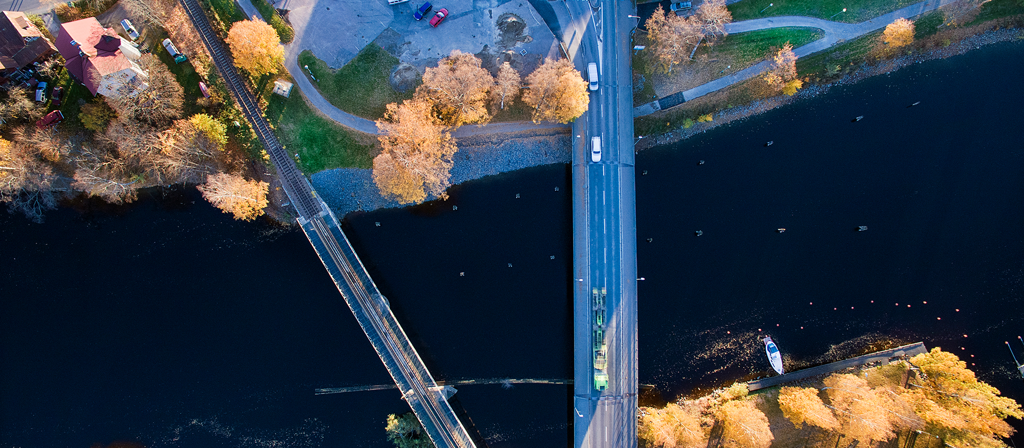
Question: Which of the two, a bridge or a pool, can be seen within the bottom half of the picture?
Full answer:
Visible within the bottom half of the picture is a bridge.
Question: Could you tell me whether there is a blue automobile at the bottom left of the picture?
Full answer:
No, no blue automobile can be made out at the bottom left of the picture.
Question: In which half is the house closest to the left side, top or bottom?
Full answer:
Seen from above, the house closest to the left side lies in the top half of the view.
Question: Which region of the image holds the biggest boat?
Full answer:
The biggest boat is in the bottom right part of the image.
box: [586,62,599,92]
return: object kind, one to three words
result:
vehicle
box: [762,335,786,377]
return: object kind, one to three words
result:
boat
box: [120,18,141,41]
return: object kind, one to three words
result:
car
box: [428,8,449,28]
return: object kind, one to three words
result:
car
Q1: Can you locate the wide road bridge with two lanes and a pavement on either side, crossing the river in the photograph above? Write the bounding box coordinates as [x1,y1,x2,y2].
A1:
[571,86,639,447]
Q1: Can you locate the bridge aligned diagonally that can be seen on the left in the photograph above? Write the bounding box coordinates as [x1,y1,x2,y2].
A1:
[282,178,475,448]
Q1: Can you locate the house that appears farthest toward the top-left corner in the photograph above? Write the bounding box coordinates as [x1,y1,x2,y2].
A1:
[0,3,69,89]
